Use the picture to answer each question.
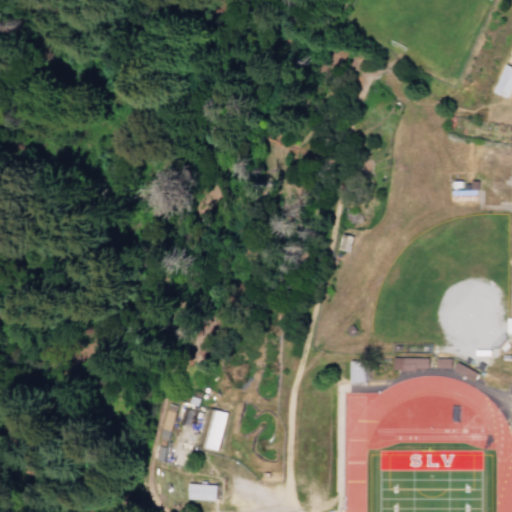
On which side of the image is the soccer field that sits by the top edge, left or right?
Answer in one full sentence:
The soccer field that sits by the top edge is on the right side of the image.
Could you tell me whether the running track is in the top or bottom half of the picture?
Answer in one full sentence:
It is in the bottom half that the running track appears.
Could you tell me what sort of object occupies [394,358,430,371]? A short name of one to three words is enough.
shed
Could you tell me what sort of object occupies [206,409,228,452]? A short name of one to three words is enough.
building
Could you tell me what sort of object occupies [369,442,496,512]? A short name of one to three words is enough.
sports field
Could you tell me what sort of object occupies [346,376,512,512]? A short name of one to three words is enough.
running track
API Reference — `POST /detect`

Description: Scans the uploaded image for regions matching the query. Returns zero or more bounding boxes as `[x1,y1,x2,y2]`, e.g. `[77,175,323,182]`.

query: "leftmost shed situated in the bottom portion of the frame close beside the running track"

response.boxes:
[351,361,367,384]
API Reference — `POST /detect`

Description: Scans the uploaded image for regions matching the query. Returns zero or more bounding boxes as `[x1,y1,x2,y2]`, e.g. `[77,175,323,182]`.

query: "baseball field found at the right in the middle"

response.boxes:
[375,214,510,358]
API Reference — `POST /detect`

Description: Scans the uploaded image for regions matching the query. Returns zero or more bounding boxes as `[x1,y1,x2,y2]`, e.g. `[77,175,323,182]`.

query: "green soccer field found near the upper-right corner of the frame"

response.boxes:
[354,0,497,82]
